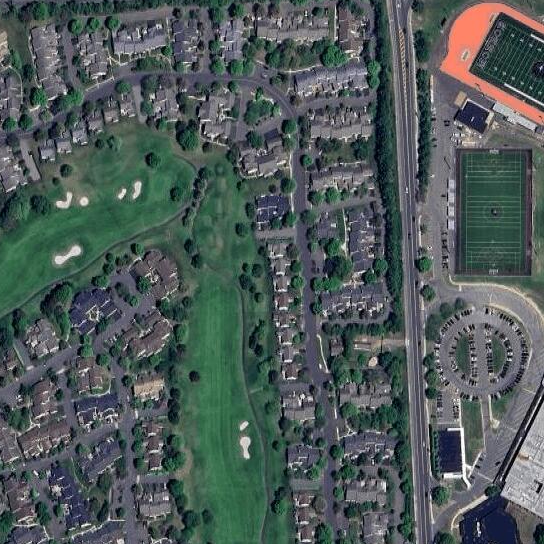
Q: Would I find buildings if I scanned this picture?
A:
Yes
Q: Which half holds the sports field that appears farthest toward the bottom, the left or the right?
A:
right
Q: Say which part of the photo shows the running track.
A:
top right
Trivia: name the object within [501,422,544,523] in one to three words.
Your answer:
building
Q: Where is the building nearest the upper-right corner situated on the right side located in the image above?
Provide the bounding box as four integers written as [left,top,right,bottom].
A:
[454,93,493,131]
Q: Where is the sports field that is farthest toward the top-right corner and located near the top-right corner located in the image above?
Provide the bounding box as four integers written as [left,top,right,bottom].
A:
[469,11,544,111]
